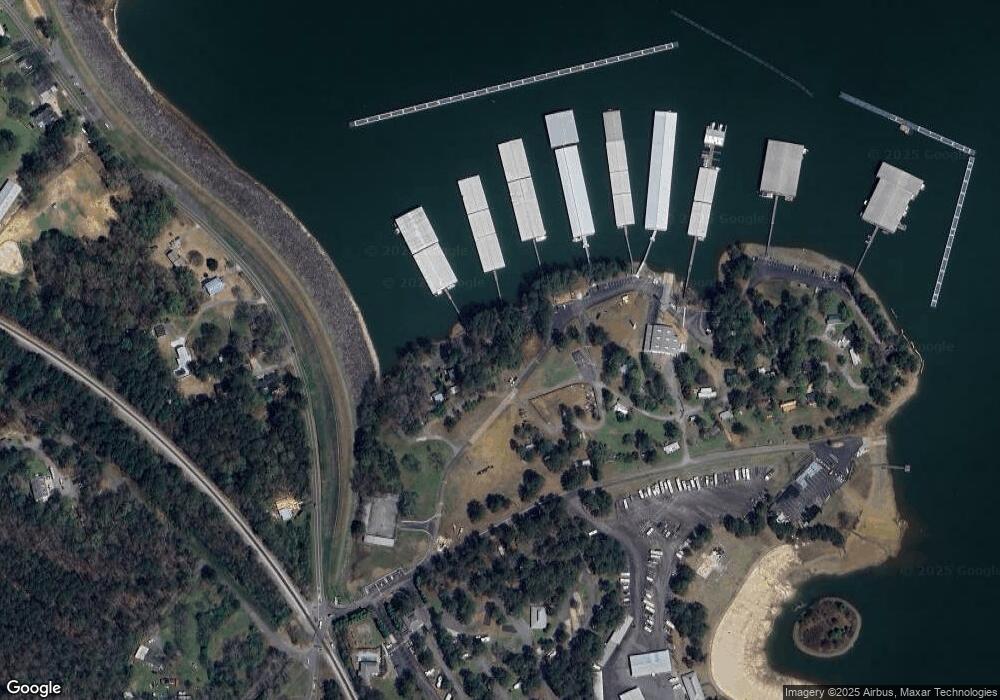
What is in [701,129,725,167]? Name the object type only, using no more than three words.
pier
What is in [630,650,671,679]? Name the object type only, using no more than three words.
building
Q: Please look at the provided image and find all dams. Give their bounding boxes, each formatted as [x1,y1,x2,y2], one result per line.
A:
[26,0,385,597]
